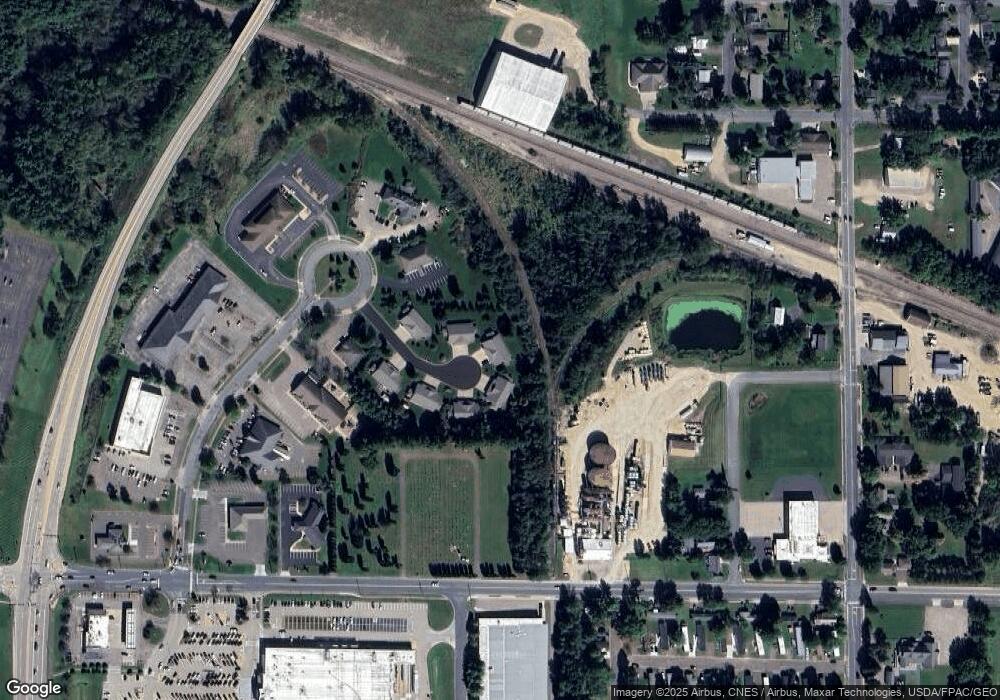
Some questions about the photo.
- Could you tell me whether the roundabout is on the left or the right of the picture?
left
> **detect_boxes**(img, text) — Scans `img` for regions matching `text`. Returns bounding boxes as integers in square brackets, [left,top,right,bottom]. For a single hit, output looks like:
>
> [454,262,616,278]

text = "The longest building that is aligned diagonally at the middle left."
[137,262,233,359]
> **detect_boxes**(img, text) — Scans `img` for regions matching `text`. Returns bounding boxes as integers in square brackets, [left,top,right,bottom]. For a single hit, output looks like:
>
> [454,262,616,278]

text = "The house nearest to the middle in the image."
[480,332,514,367]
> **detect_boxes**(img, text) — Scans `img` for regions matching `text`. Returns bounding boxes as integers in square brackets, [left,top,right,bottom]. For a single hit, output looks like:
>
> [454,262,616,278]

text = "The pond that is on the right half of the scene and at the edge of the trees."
[659,292,748,356]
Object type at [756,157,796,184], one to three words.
building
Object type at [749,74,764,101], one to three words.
house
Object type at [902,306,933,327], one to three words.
shed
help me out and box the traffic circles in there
[298,234,379,315]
